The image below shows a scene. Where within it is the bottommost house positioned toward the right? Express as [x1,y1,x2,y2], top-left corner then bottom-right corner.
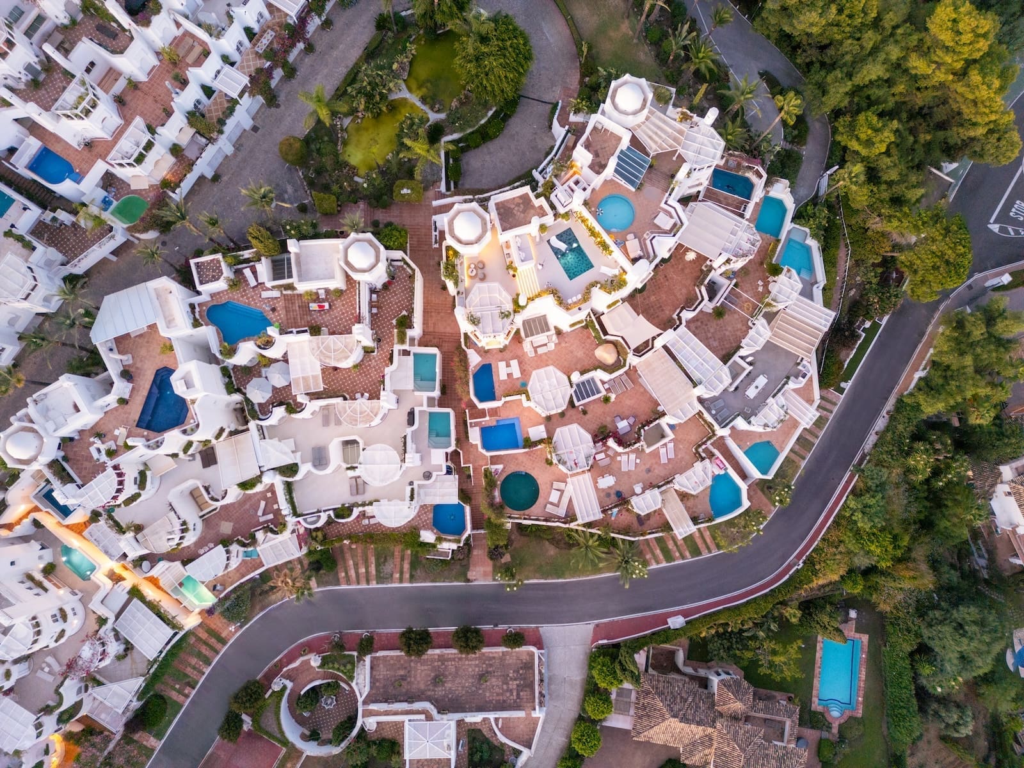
[629,659,808,768]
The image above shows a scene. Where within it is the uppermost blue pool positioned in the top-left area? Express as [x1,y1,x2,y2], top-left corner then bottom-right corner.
[26,148,86,187]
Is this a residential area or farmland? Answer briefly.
residential area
